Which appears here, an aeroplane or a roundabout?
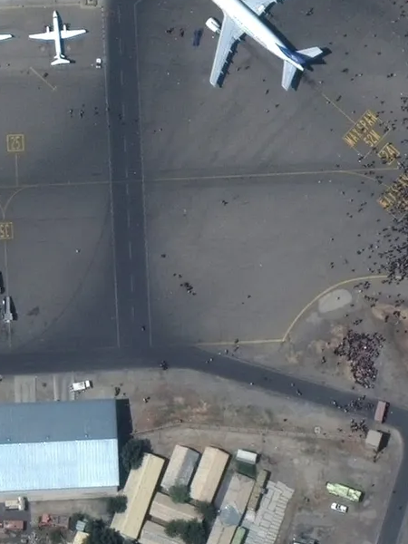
aeroplane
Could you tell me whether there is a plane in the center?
No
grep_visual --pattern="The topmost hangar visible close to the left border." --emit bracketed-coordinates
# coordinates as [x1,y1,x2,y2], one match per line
[0,398,119,502]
